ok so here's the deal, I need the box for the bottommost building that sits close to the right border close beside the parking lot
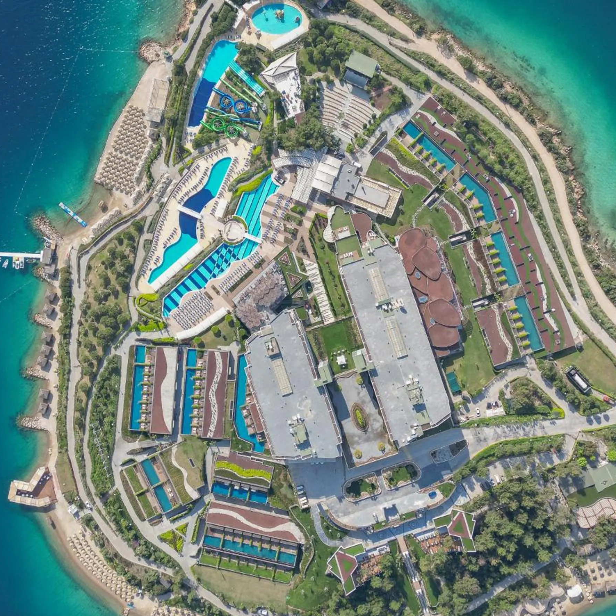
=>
[554,459,616,526]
